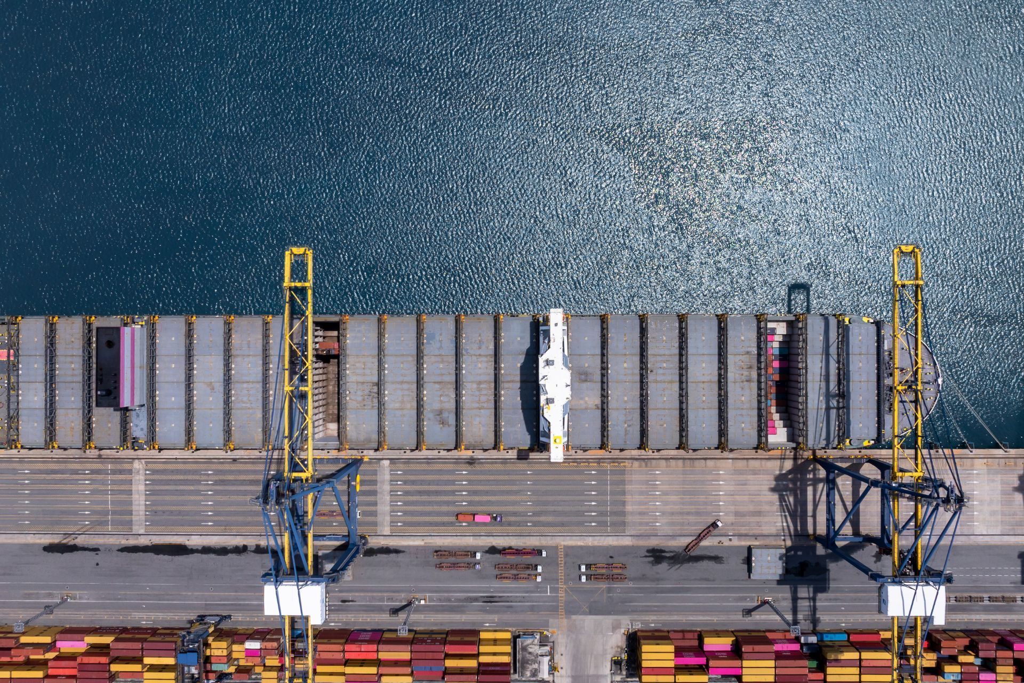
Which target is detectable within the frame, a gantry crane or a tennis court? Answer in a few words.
gantry crane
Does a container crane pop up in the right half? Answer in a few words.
Yes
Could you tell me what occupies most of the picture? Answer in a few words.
water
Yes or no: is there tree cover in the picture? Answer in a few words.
No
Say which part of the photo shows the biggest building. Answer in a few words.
bottom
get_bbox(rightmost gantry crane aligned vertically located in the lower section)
[800,246,971,683]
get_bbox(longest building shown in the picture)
[517,633,539,678]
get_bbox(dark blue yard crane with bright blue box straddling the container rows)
[174,614,232,683]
